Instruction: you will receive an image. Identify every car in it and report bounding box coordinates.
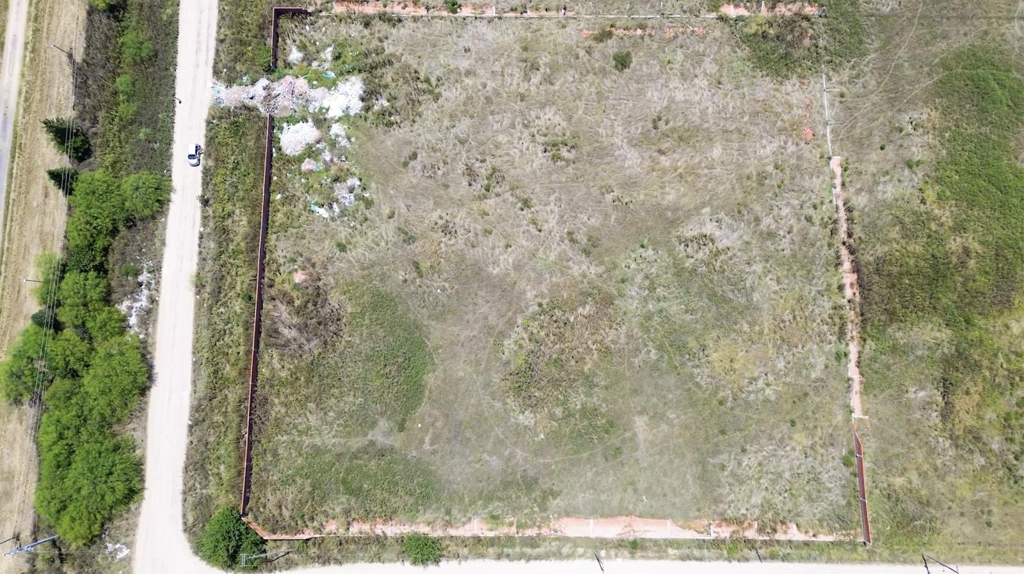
[187,143,205,167]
